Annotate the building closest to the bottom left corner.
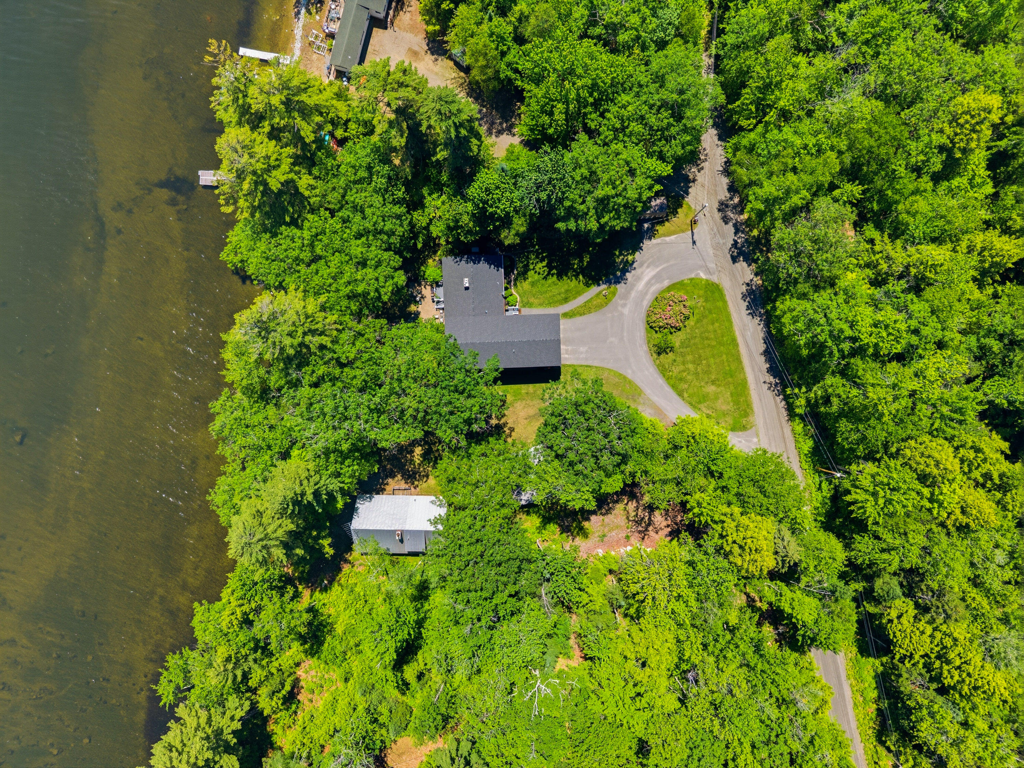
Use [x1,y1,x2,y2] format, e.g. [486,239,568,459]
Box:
[351,495,447,554]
